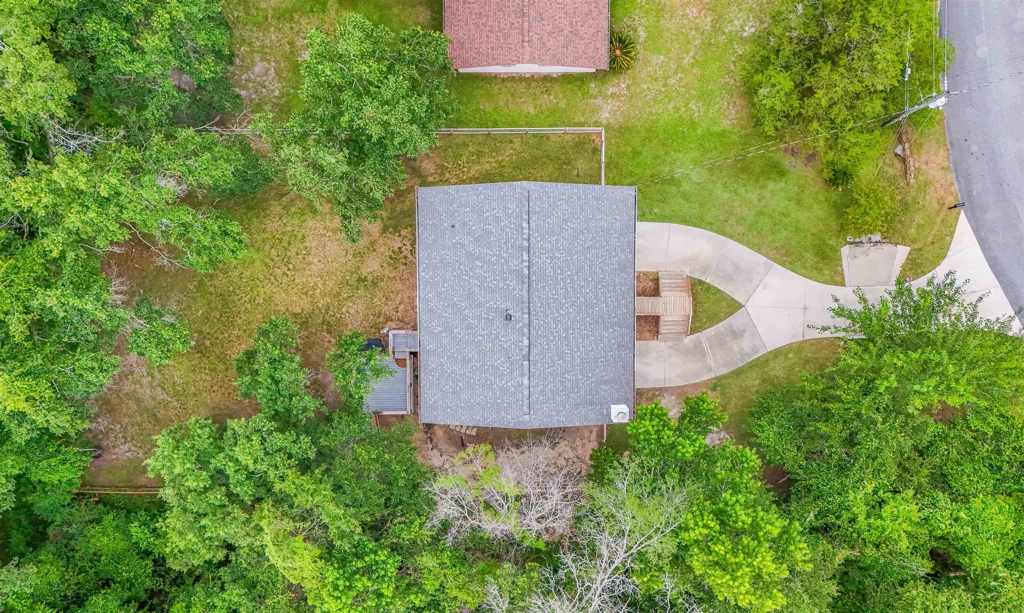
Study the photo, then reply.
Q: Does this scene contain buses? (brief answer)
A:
No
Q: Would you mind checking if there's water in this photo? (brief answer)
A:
No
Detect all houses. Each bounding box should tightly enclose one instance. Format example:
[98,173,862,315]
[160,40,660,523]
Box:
[416,181,638,429]
[443,0,610,72]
